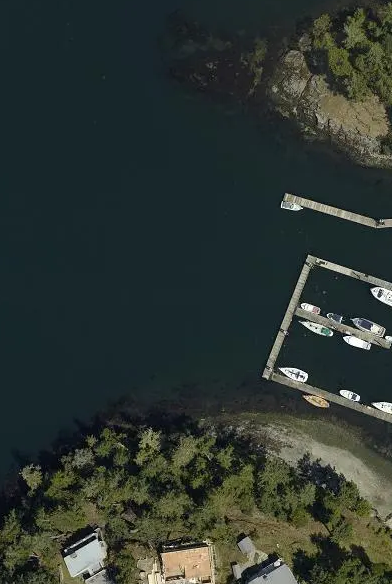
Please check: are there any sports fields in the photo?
No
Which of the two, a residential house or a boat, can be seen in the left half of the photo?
residential house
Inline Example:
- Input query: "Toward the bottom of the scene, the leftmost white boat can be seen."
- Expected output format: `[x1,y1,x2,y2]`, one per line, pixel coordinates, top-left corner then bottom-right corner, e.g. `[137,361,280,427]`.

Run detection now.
[279,368,308,386]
